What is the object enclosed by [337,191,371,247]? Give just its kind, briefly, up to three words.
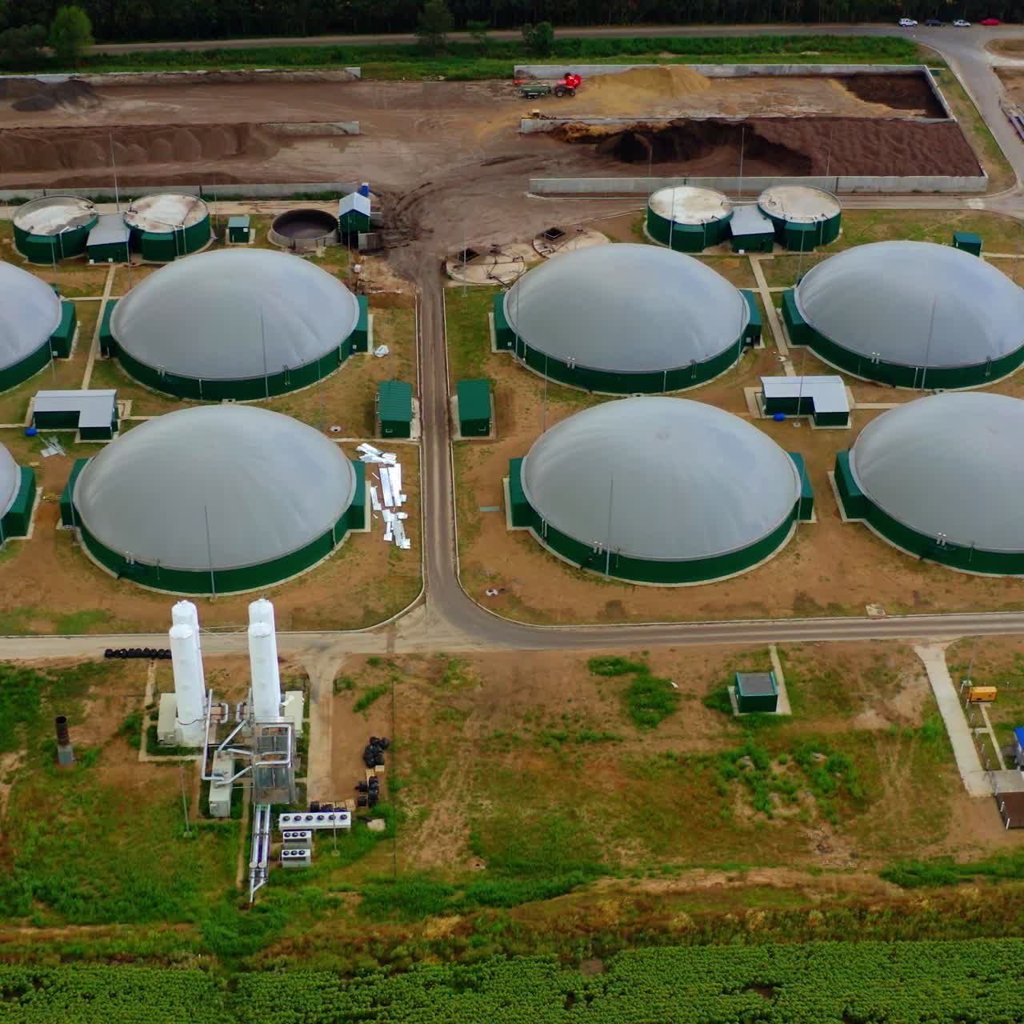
house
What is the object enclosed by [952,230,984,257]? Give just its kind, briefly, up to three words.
shed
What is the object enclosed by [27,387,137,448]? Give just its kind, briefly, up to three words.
shed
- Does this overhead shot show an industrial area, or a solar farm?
industrial area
